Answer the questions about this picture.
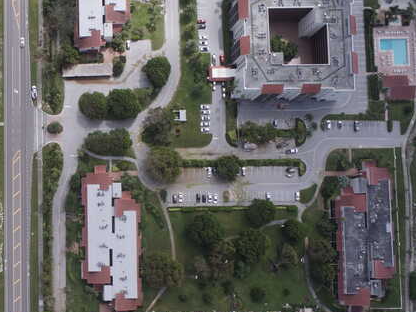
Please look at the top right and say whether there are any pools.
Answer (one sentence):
Yes, looking at the top right, one can make out a pool.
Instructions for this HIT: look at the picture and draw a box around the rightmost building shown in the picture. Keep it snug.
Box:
[380,76,416,100]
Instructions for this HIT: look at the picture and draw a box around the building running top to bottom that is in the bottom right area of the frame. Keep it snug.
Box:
[329,160,396,312]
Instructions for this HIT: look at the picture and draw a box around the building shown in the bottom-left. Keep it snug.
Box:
[80,165,143,312]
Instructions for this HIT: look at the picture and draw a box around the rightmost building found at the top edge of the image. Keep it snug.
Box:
[230,0,359,99]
